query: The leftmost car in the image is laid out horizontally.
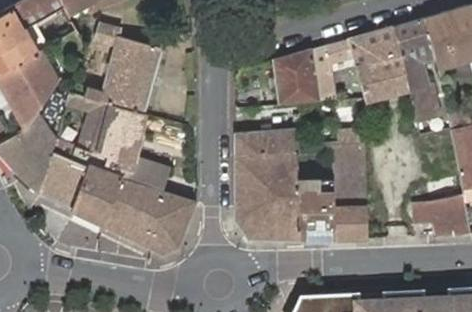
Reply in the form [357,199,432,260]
[52,256,75,268]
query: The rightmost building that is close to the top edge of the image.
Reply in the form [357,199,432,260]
[426,6,472,76]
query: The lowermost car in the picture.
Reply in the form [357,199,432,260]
[248,272,270,285]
